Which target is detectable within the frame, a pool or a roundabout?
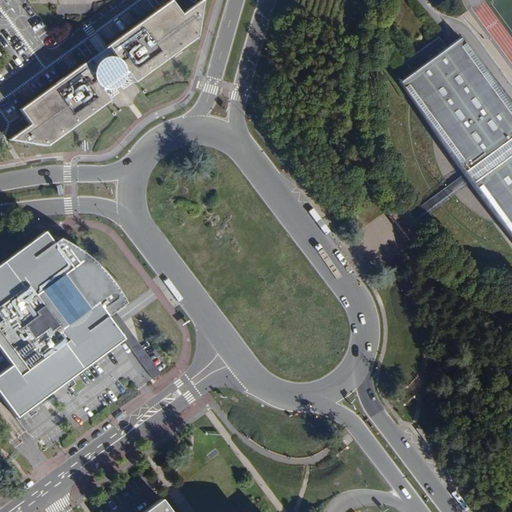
roundabout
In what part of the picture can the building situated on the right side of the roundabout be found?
top right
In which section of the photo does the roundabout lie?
center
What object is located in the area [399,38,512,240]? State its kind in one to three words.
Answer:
building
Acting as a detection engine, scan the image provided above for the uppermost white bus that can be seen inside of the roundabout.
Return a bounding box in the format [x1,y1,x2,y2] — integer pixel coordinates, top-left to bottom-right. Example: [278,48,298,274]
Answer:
[307,208,331,236]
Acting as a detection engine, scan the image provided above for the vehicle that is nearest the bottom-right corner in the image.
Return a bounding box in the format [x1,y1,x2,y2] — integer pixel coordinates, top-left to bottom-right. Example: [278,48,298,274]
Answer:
[450,488,472,512]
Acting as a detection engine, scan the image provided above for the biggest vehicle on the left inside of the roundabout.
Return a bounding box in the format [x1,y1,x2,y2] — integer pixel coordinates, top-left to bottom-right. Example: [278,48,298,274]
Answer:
[164,276,186,303]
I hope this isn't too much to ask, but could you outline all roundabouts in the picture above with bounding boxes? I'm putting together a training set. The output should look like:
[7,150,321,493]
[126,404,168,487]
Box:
[78,75,400,494]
